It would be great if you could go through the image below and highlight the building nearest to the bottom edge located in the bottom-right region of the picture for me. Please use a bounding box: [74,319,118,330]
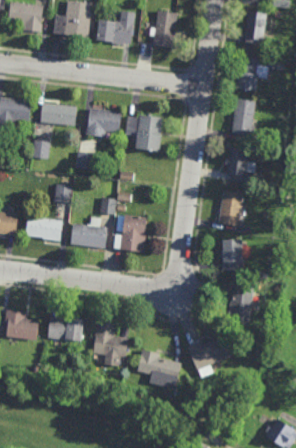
[274,424,296,448]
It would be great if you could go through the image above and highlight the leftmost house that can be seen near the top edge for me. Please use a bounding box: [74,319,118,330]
[10,0,43,32]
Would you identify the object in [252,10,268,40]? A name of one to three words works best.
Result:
house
